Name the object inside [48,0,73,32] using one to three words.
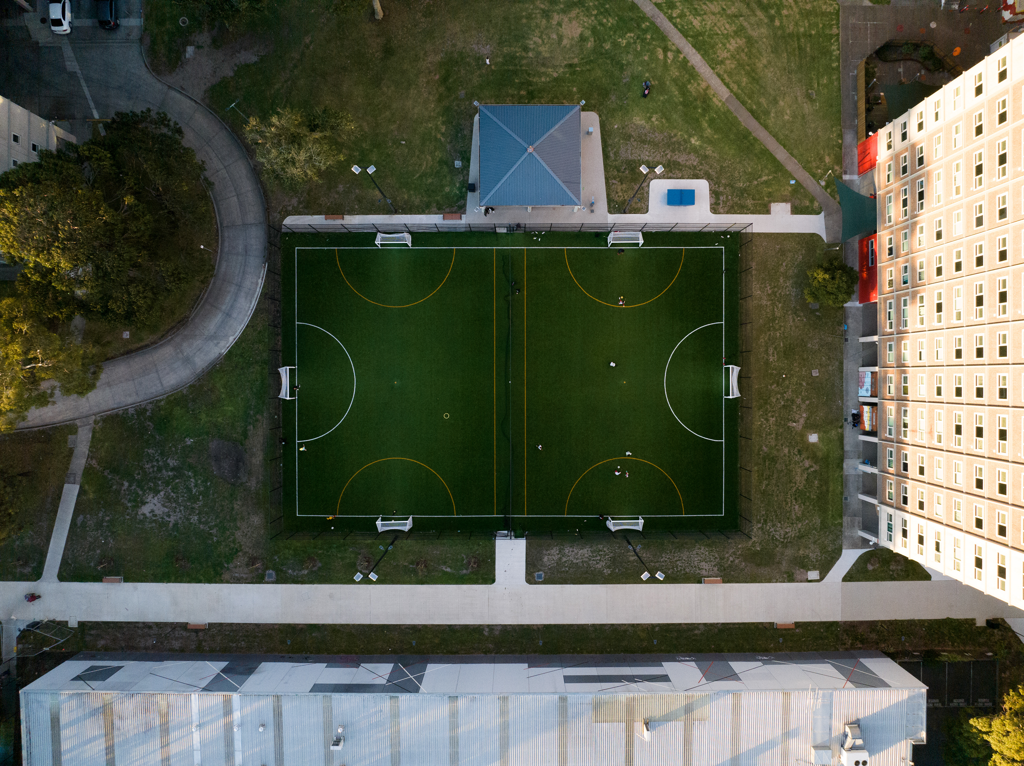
car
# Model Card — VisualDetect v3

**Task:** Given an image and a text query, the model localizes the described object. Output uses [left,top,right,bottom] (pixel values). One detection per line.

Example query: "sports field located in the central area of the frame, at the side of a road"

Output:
[281,232,740,532]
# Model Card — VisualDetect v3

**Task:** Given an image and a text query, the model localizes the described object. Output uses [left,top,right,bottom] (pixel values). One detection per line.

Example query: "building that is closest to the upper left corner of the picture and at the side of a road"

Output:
[0,92,88,202]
